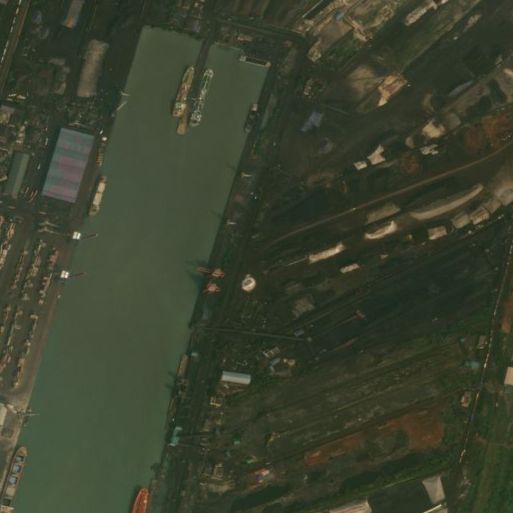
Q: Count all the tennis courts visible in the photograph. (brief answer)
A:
zero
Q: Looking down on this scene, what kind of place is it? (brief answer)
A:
port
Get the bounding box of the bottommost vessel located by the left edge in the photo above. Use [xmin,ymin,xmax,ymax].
[1,447,27,513]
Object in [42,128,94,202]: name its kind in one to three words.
building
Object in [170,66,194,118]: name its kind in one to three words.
ship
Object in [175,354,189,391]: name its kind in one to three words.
ship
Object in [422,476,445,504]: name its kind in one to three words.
building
